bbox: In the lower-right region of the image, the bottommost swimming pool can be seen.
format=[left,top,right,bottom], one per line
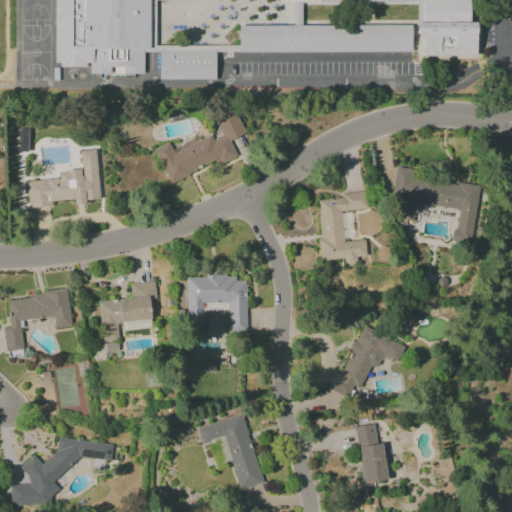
[418,432,432,459]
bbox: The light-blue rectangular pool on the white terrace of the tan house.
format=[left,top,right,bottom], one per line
[42,146,72,166]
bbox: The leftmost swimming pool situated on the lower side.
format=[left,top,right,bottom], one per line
[31,328,58,354]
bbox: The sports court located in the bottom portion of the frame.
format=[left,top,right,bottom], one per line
[54,364,88,414]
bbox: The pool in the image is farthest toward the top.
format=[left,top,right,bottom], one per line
[164,119,192,138]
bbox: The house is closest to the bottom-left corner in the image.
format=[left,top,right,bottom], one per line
[12,438,115,503]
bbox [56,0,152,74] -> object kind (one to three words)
building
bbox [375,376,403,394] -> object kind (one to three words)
swimming pool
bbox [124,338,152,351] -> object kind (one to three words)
swimming pool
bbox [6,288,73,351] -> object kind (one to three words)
house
